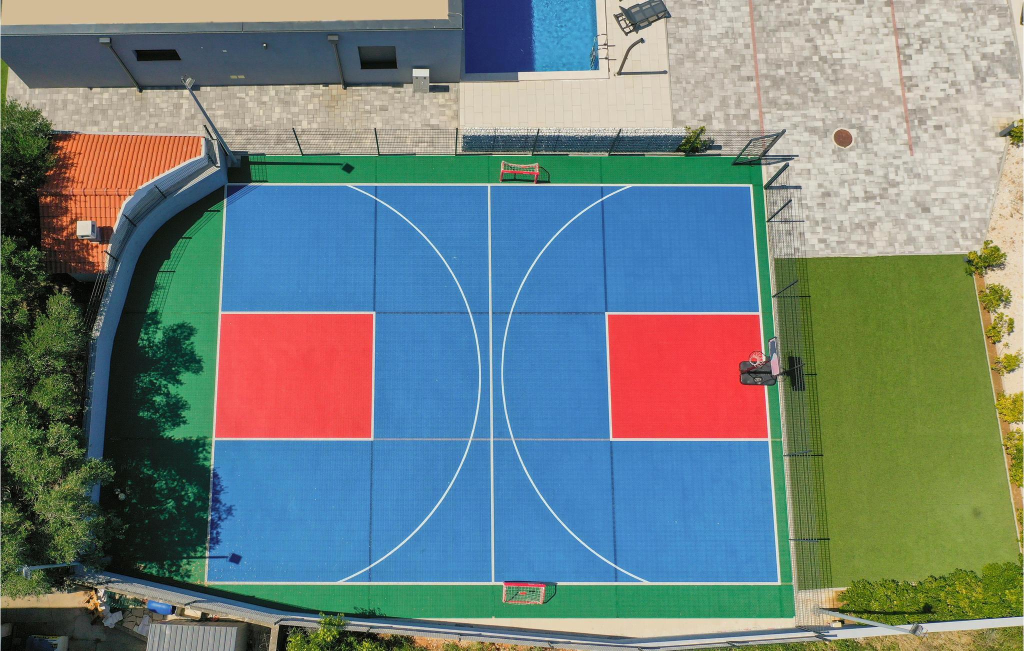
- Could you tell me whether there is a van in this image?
No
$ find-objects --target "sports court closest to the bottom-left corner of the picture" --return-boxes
[97,157,793,618]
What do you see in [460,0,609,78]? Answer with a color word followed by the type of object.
blue swimming pool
